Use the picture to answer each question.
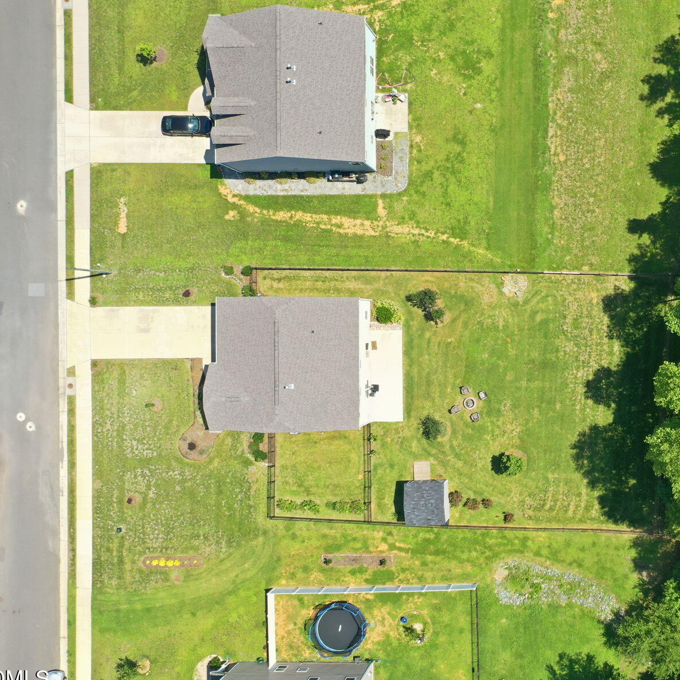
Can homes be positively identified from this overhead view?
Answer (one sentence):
Yes, a home appears in the view.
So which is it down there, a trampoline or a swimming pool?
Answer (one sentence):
Of the two, only a trampoline appears.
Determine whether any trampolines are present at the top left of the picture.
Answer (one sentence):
No, no trampoline appears at the top left of the picture.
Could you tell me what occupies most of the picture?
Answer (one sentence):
For the most part, this view shows grass.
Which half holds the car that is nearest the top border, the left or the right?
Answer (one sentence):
The car that is nearest the top border sits on the left side.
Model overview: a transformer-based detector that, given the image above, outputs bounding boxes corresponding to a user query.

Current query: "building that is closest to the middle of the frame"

[202,296,375,433]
